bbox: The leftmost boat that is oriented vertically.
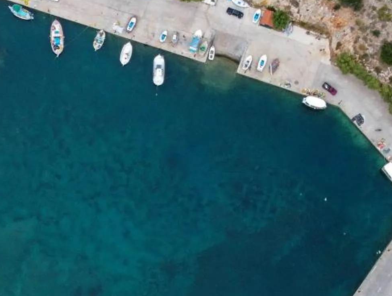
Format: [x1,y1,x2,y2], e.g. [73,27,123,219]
[50,19,64,58]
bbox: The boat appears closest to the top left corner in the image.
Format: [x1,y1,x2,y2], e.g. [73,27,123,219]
[7,5,35,20]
